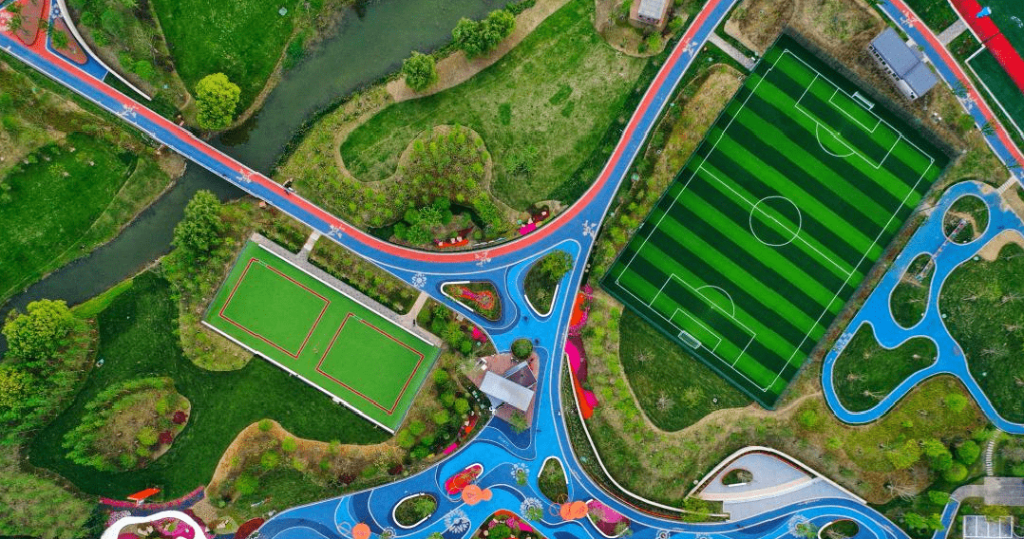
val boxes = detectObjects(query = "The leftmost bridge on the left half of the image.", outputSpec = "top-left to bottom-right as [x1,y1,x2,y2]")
[174,129,274,200]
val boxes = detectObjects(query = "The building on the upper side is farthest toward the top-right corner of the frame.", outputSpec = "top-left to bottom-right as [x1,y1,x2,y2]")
[865,29,936,101]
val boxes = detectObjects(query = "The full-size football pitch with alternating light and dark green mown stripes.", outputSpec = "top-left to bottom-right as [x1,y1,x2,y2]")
[603,36,952,406]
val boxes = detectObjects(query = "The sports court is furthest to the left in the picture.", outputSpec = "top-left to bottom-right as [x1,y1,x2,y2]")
[203,238,342,375]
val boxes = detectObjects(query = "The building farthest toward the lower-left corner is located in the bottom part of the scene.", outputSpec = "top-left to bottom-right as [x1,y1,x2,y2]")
[479,361,537,412]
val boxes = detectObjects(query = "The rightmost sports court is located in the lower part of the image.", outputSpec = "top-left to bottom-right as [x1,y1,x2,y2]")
[296,294,440,433]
